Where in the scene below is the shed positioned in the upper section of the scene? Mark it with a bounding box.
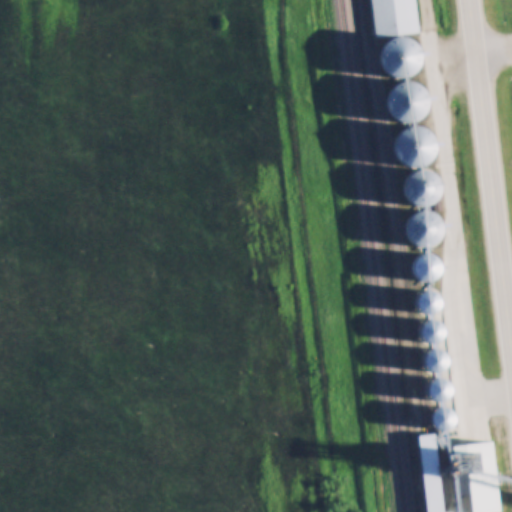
[372,0,418,37]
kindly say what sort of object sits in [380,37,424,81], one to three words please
silo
